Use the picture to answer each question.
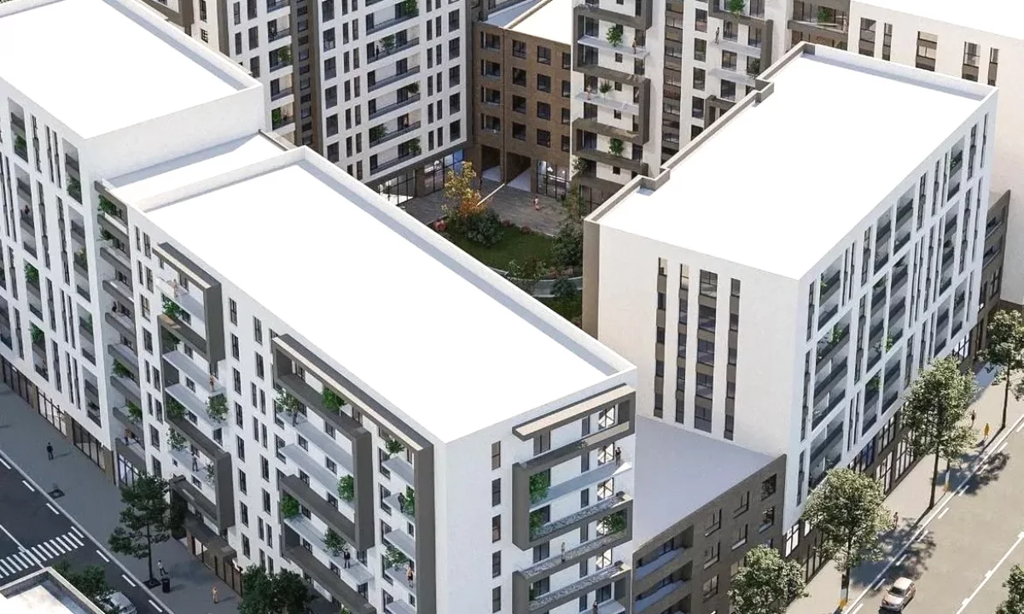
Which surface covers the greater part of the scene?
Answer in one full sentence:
The bulk of the photo consists of buildings.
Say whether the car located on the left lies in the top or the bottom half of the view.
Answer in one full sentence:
The bottom half of the photo is where the car located on the left is.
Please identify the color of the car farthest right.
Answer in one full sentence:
The car farthest right is white.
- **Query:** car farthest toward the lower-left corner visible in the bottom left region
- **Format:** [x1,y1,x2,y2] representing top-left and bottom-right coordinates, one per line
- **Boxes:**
[105,589,145,614]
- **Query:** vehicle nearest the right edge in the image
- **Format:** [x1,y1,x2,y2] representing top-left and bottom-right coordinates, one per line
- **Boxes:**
[883,577,916,612]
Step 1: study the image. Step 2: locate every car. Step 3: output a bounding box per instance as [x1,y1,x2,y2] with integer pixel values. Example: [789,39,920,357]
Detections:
[883,577,916,612]
[105,589,145,614]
